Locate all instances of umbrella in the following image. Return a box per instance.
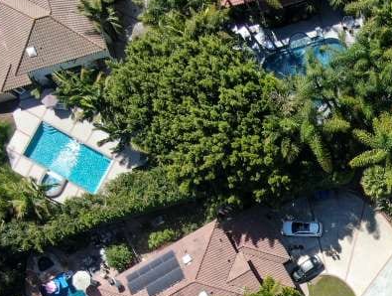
[73,272,92,290]
[43,94,60,110]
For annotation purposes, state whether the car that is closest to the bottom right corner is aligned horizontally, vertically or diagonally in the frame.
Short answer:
diagonally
